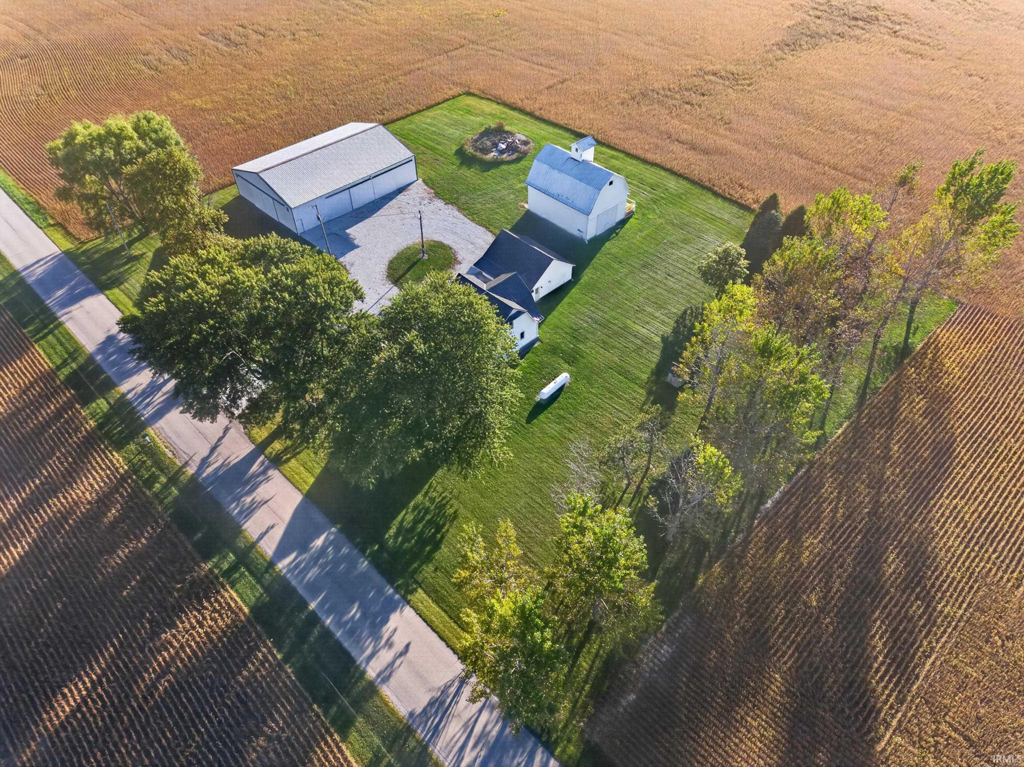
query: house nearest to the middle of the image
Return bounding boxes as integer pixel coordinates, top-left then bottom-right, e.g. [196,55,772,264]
[451,231,577,350]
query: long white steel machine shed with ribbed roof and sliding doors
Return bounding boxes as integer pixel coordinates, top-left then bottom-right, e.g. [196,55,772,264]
[231,122,418,235]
